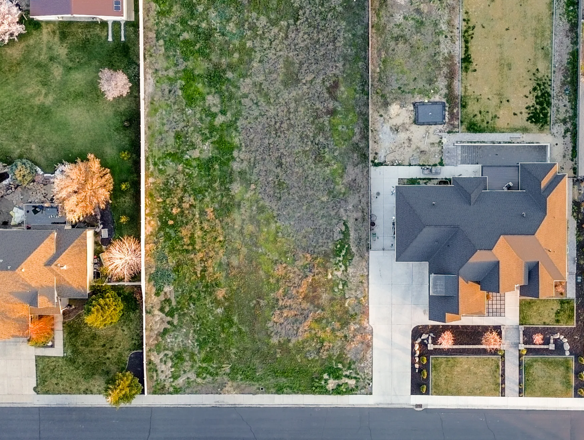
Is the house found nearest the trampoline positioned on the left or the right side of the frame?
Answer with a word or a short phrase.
right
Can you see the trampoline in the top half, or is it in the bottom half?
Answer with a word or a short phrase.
top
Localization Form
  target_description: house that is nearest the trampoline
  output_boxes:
[395,162,567,323]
